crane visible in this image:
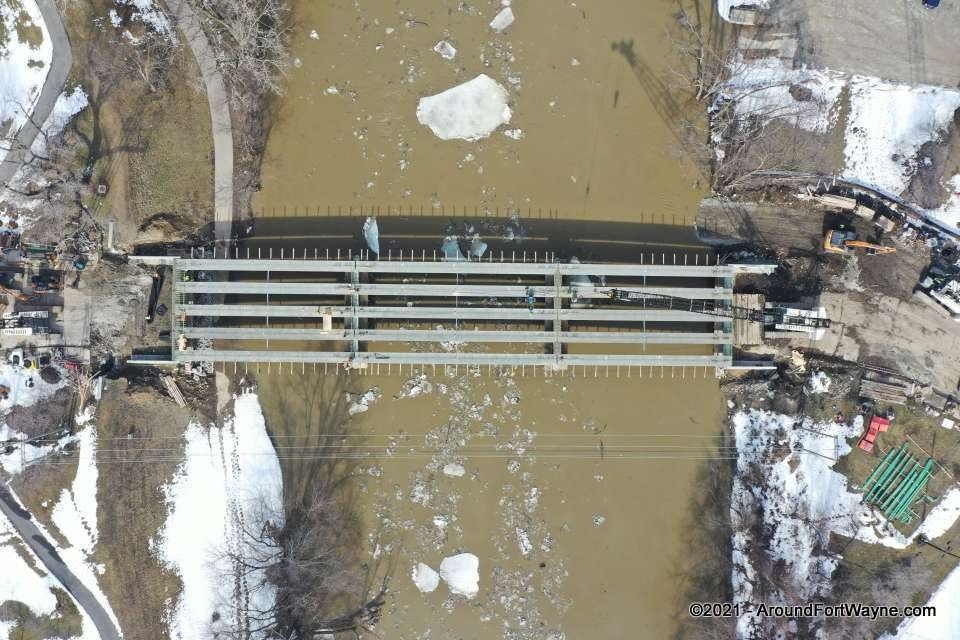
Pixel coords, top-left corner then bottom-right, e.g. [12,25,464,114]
[565,288,848,340]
